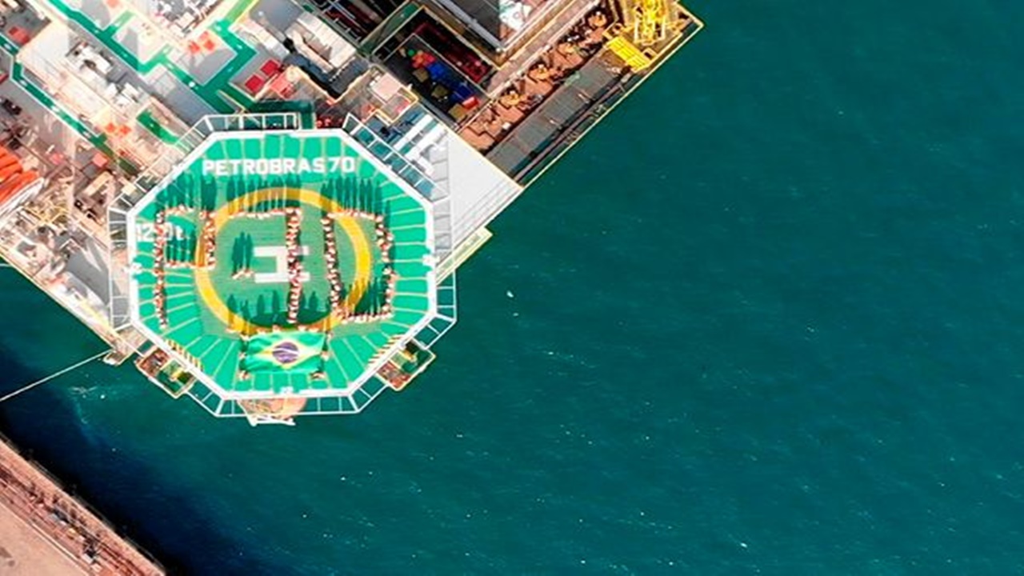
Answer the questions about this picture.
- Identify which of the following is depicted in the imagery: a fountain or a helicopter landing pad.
helicopter landing pad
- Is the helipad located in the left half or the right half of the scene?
left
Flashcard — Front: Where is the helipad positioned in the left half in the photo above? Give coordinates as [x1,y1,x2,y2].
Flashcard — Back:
[108,113,456,416]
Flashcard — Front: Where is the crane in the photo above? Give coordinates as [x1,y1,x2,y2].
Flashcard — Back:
[617,0,682,59]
